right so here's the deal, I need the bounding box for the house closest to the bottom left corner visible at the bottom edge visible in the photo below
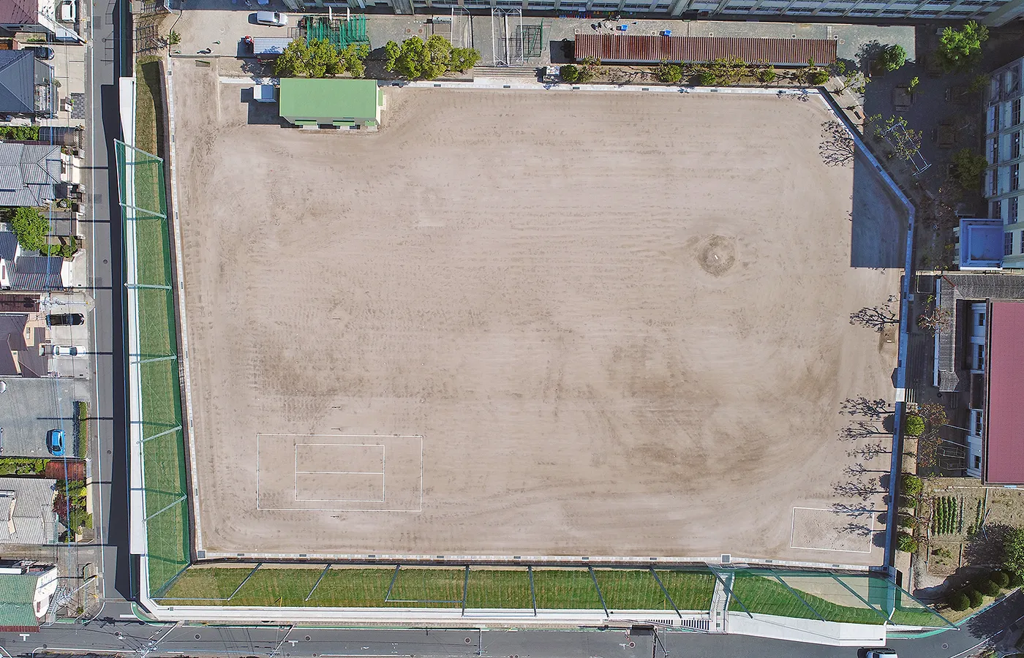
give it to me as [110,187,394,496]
[0,550,68,632]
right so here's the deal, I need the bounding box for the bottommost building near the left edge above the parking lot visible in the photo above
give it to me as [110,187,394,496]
[0,314,57,376]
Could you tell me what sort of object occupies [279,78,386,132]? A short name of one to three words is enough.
shed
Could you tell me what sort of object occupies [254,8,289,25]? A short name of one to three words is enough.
vehicle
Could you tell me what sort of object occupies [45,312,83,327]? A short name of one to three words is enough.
car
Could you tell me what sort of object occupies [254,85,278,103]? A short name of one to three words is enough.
shed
